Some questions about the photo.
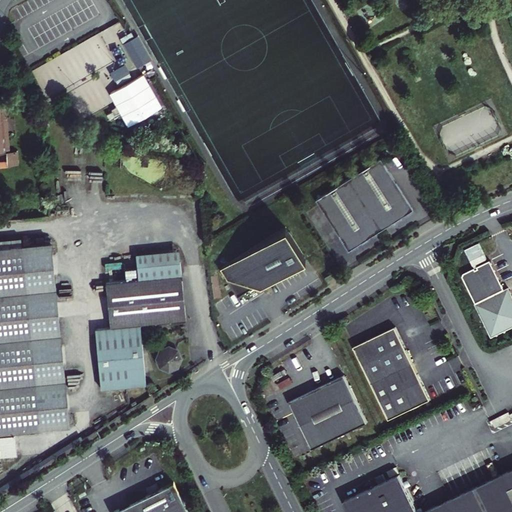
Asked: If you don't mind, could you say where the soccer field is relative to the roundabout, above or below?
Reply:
above it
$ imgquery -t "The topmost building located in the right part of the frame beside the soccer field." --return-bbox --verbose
[317,161,414,252]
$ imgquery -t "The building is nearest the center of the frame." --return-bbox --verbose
[220,238,310,292]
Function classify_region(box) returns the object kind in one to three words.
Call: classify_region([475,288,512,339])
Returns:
building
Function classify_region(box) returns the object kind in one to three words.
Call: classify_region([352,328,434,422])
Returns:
building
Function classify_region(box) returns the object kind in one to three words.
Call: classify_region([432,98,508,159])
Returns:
sports court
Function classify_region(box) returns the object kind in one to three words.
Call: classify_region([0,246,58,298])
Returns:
shed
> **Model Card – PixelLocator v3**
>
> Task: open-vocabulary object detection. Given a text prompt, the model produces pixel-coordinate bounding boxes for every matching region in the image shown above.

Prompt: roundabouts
[188,394,248,470]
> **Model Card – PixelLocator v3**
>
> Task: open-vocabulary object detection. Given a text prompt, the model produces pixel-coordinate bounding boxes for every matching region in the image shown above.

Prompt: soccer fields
[124,0,380,201]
